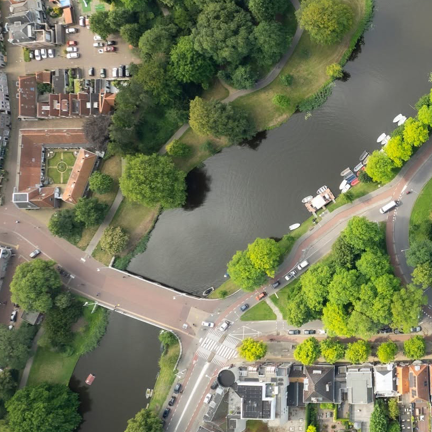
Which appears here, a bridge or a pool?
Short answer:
bridge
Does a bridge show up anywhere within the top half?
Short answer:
No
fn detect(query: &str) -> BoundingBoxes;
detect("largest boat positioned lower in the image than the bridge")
[84,371,97,386]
